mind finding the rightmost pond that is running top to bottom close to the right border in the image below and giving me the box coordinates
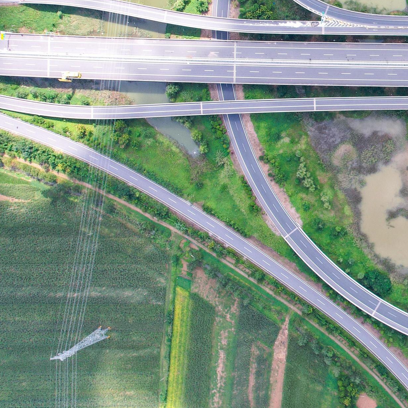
[349,115,408,269]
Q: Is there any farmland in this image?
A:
Yes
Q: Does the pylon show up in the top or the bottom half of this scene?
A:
bottom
